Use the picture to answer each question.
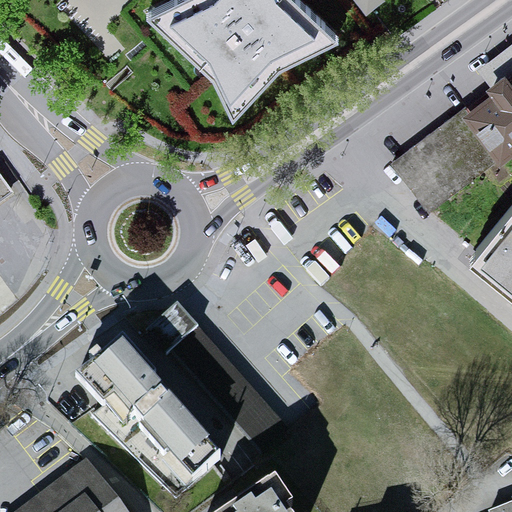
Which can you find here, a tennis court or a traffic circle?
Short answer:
traffic circle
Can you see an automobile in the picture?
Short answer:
Yes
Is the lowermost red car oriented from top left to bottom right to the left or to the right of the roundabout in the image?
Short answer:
on the right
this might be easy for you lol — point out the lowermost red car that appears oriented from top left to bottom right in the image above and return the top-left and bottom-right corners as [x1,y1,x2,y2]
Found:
[270,274,289,294]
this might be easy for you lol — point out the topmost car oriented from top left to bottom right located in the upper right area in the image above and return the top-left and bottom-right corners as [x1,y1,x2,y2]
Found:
[443,83,462,106]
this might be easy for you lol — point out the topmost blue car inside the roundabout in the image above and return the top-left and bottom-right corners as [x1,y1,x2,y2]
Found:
[152,176,172,196]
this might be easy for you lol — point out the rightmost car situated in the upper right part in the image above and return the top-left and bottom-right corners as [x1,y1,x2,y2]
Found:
[466,52,490,72]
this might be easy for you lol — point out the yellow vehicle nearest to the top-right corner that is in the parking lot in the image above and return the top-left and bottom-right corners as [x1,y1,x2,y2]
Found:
[338,219,360,243]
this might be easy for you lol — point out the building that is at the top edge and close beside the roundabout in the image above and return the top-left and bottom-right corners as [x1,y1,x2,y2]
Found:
[144,0,340,126]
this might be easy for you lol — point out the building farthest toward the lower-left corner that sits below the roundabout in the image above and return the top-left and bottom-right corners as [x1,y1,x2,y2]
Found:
[12,457,130,512]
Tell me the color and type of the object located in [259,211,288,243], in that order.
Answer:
white truck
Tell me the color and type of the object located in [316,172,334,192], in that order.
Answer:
black car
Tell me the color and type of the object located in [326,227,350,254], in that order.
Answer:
white vehicle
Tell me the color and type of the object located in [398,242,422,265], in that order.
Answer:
white vehicle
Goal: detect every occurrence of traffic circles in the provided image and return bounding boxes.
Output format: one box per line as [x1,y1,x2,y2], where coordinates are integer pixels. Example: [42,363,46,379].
[61,163,213,301]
